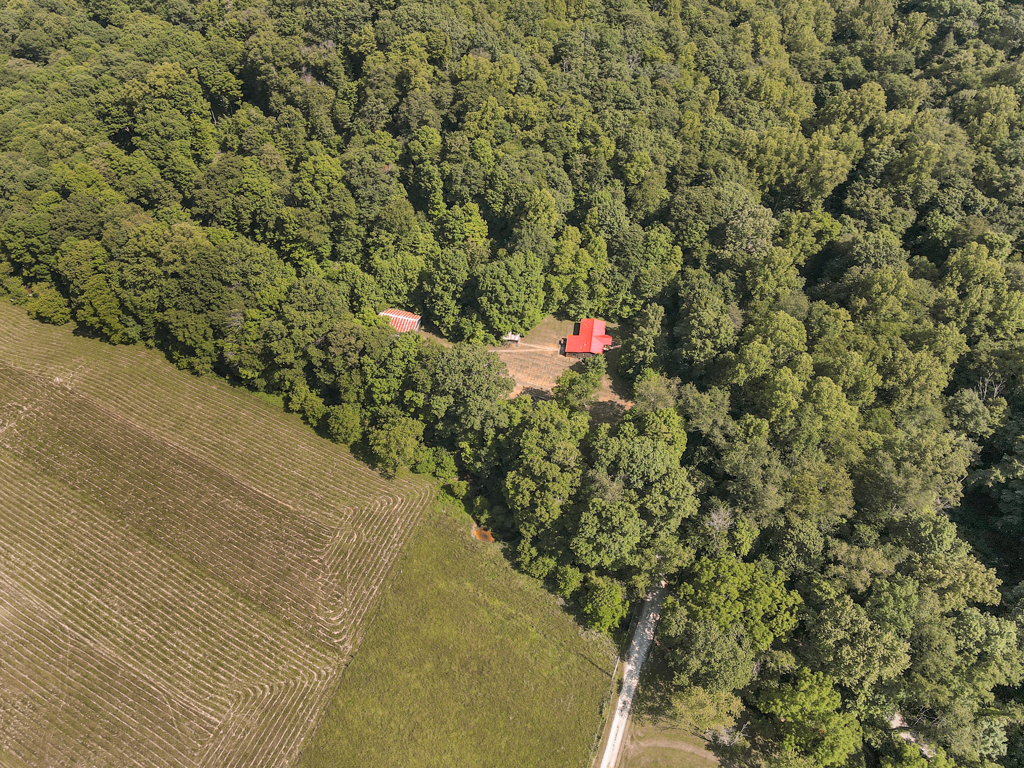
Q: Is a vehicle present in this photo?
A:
No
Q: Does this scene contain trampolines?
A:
No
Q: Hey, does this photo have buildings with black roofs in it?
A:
No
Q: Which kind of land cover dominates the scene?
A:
trees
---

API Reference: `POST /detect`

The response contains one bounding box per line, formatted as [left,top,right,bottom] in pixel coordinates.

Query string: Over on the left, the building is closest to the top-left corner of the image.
[377,309,425,340]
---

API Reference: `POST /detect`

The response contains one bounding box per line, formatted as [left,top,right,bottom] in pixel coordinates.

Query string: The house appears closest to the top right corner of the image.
[563,322,612,363]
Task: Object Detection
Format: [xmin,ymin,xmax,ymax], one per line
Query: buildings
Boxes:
[377,309,425,340]
[563,322,612,363]
[503,331,520,343]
